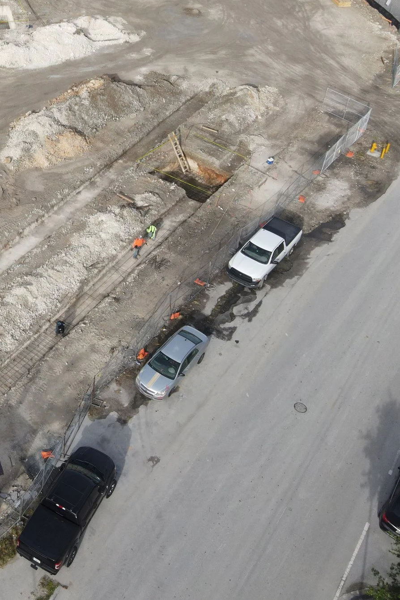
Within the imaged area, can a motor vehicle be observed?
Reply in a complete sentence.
Yes, I can see a motor vehicle in this picture.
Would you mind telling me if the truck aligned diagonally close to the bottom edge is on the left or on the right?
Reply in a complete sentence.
It is on the left.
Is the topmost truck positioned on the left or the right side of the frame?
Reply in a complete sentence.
The topmost truck appears in the right half of the scene.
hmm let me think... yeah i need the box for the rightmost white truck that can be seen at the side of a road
[232,216,304,287]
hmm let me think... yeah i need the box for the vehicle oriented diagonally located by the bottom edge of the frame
[22,445,127,576]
